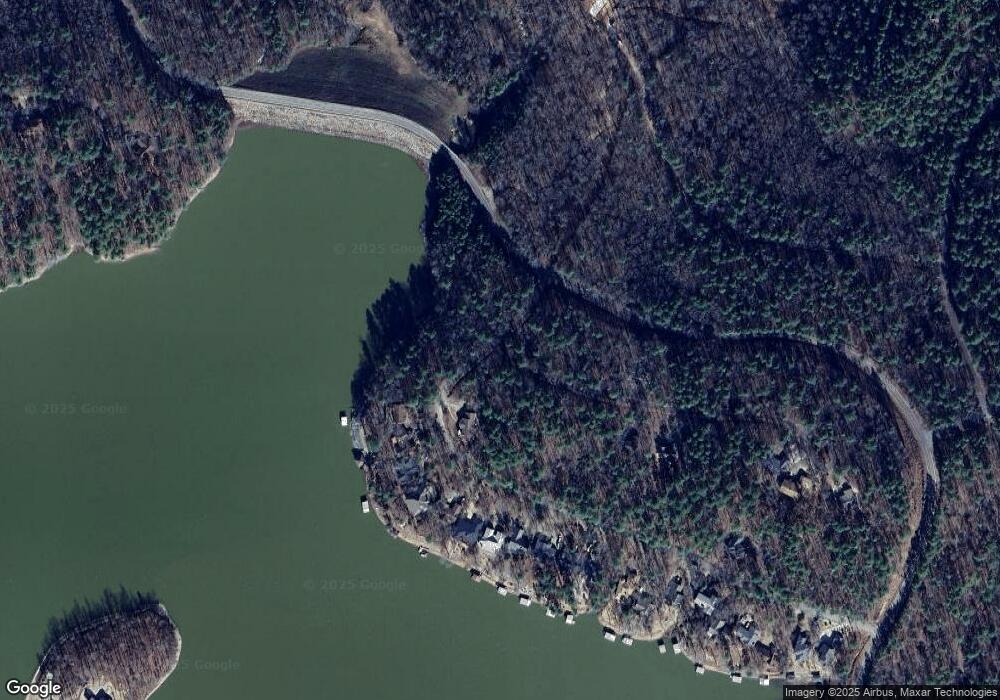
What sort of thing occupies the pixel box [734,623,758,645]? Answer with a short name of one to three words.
house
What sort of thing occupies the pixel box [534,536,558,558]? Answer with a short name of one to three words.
house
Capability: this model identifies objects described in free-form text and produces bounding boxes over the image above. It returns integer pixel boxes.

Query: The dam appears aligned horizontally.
[219,44,466,168]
